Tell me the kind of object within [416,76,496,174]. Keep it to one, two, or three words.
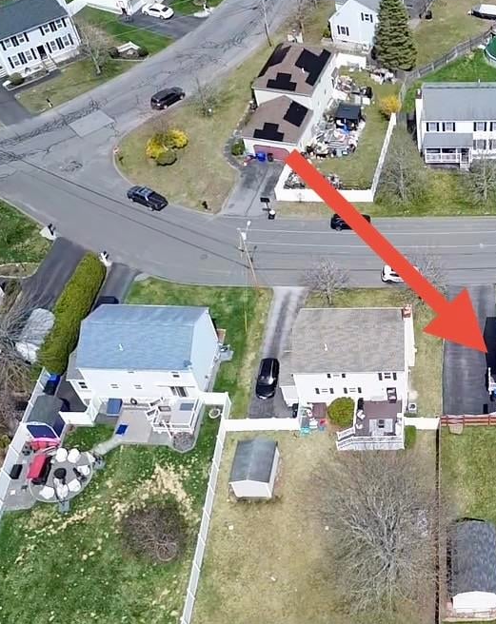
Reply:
house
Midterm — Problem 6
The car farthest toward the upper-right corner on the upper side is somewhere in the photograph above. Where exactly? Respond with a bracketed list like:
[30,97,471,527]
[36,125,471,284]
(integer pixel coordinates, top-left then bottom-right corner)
[327,209,373,233]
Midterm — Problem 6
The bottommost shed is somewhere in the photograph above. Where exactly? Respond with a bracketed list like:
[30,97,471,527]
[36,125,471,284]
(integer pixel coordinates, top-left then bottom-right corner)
[452,528,496,616]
